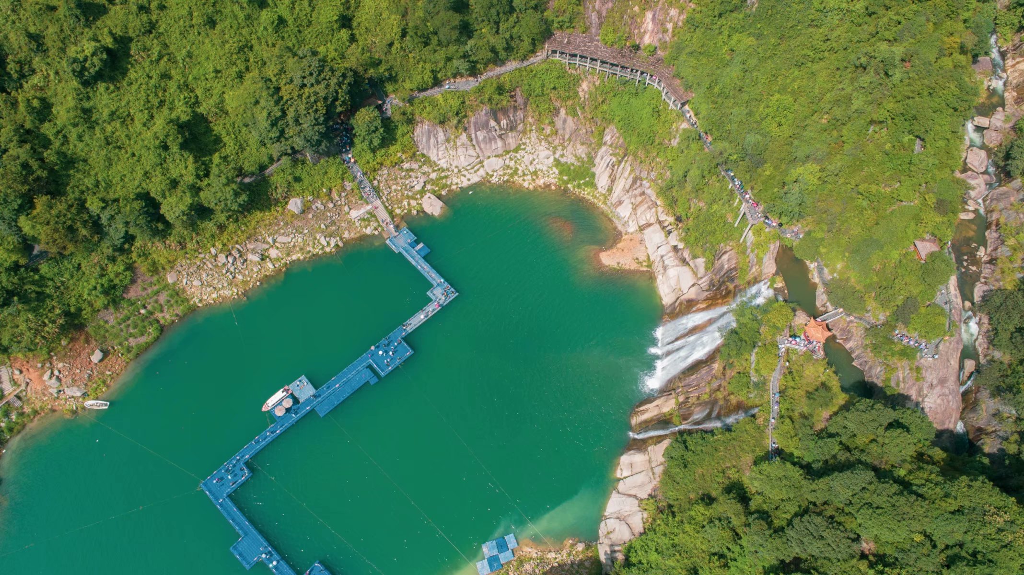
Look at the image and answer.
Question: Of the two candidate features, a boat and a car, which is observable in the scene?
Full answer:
Looking from above, you can make out a boat.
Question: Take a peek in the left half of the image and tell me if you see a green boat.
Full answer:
No, no green boat is visible in the left half of the image.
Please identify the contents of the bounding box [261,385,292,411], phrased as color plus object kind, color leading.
white boat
